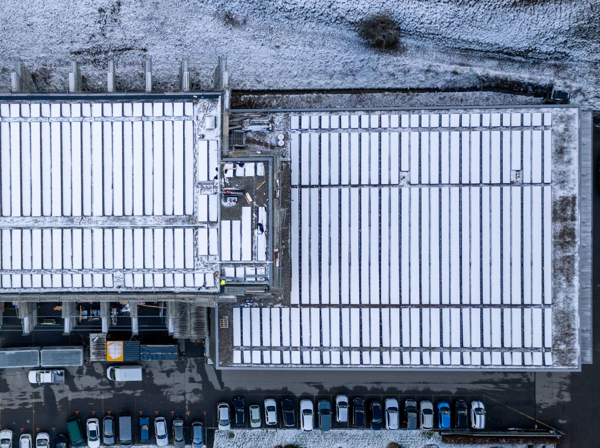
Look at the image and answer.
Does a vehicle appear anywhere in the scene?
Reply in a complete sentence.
Yes, the image includes a vehicle.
